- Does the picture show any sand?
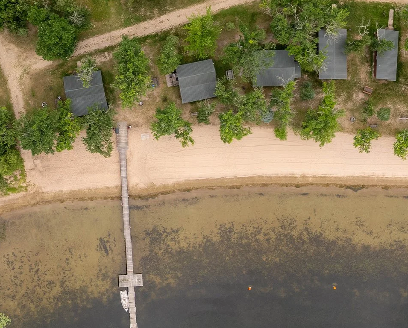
Yes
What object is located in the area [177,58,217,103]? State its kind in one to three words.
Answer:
building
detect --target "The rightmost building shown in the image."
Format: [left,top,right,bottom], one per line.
[374,28,399,80]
